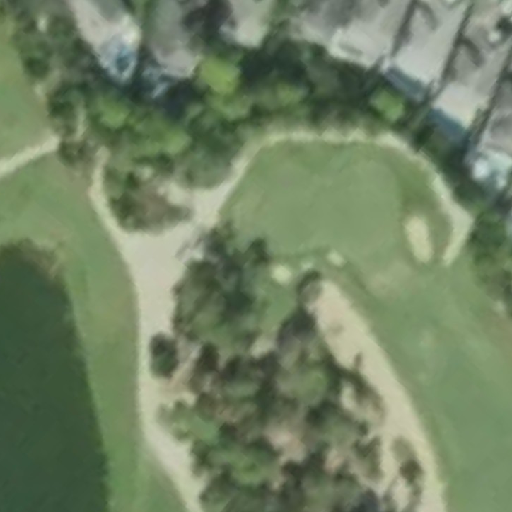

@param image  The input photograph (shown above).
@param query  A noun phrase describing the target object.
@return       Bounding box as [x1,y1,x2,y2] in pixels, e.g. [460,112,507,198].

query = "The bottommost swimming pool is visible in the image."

[473,153,512,190]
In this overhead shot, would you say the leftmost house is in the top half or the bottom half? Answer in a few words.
top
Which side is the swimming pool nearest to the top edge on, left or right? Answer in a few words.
left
